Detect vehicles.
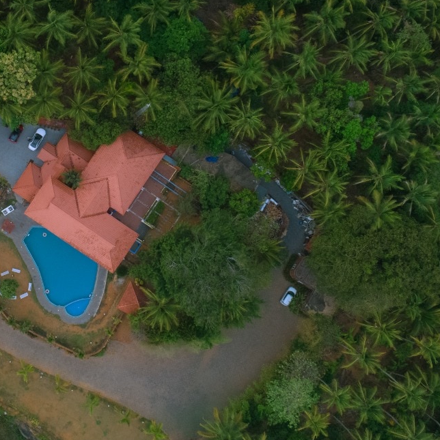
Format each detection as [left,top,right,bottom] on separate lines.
[280,286,296,307]
[6,123,25,144]
[28,127,45,151]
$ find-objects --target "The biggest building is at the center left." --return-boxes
[12,127,166,273]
